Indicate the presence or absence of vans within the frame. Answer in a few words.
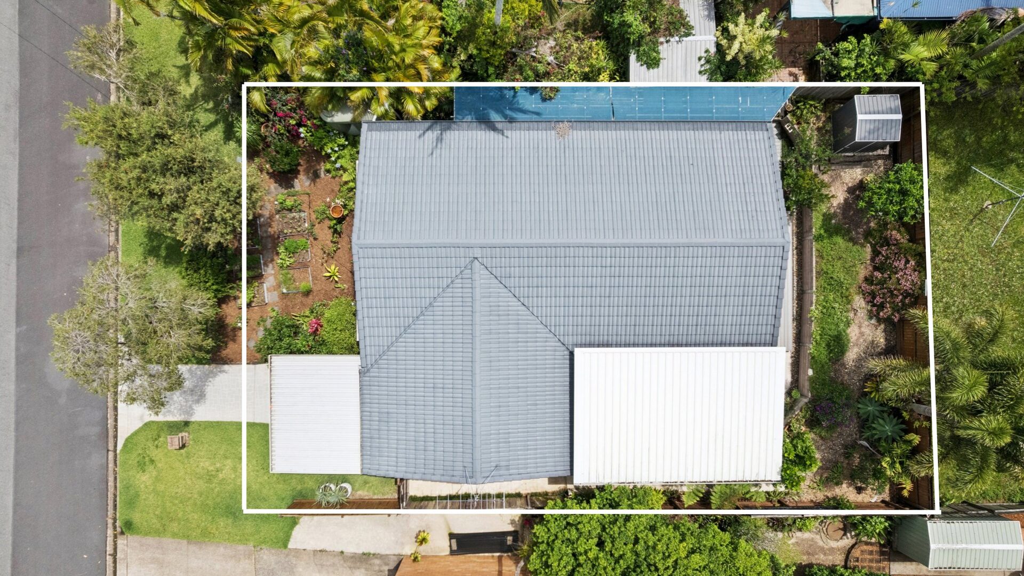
No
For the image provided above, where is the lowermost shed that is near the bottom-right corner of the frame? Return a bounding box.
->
[899,513,1024,570]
